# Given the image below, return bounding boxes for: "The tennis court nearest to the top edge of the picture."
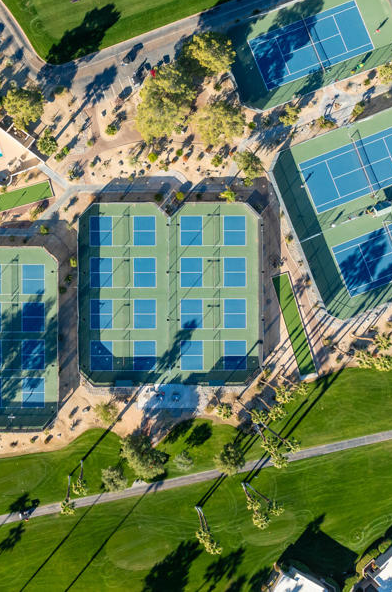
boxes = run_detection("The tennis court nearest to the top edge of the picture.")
[230,0,392,109]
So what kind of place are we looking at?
sports ground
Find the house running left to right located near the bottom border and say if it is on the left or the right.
right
